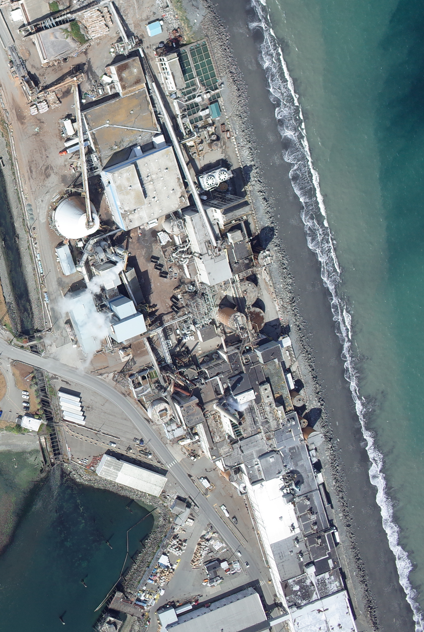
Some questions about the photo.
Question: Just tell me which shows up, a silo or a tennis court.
silo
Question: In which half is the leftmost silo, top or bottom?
top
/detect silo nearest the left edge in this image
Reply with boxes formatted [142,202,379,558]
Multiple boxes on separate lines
[53,194,100,241]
